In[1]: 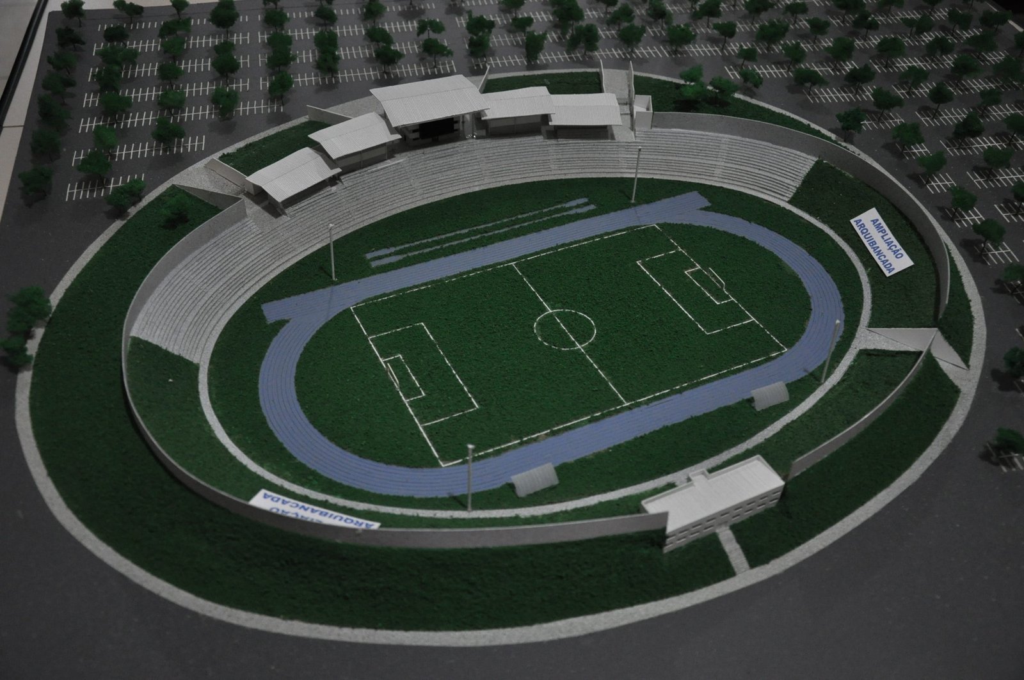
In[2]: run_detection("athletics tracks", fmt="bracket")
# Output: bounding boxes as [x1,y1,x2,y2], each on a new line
[257,190,845,499]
